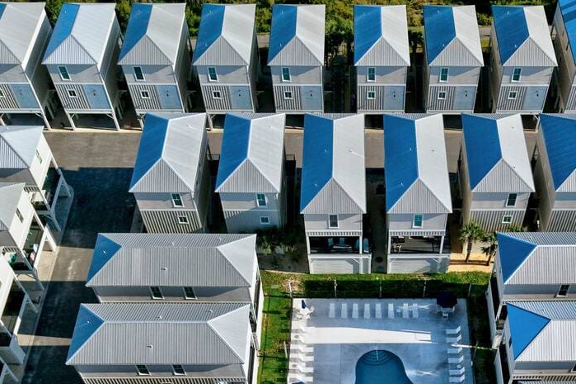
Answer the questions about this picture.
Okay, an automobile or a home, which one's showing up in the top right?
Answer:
home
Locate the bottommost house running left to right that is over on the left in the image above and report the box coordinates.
[65,302,258,384]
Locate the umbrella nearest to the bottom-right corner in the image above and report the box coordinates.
[437,292,458,313]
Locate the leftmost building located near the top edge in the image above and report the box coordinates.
[0,3,60,130]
